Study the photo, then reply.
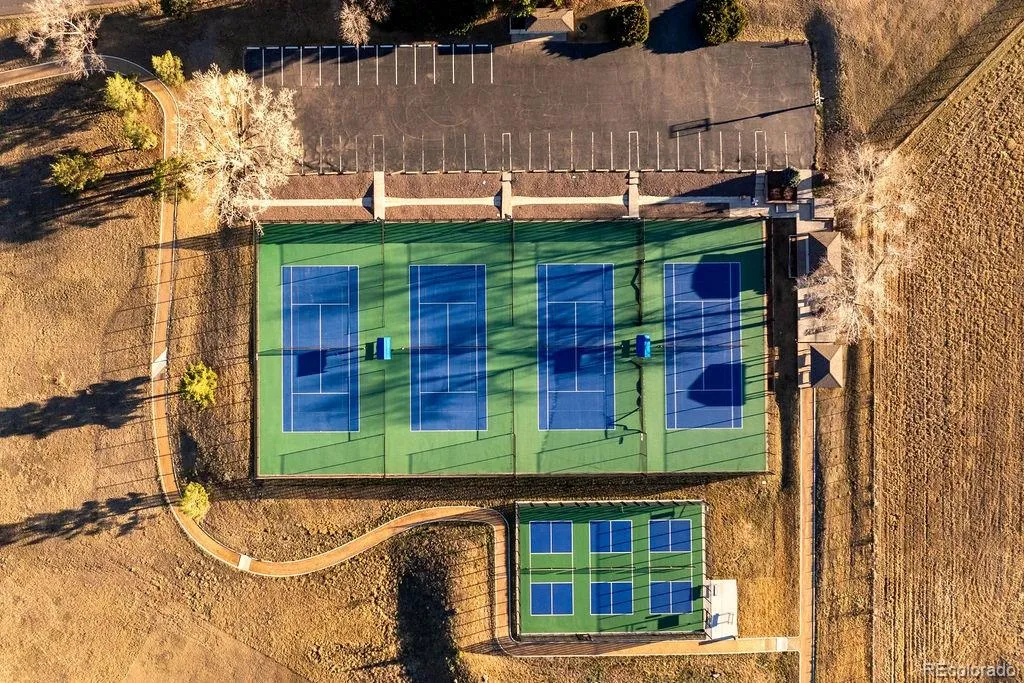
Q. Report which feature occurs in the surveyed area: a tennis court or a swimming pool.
tennis court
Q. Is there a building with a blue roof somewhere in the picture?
No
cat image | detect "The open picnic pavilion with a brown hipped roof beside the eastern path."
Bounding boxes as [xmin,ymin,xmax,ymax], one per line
[806,344,843,388]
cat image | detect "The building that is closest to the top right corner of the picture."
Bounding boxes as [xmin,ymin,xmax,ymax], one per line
[781,231,841,278]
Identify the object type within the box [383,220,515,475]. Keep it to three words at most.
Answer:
tennis court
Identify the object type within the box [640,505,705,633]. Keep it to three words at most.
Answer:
sports court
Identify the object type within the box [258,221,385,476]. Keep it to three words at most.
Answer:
tennis court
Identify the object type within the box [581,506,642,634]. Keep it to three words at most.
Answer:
sports court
